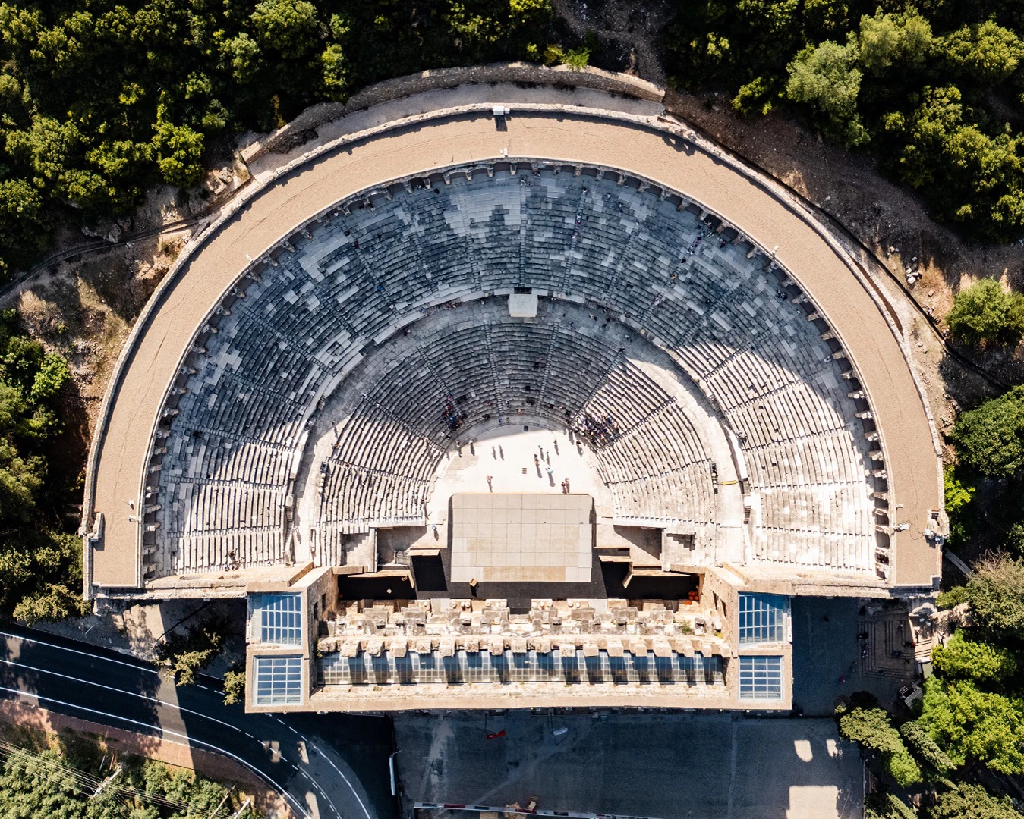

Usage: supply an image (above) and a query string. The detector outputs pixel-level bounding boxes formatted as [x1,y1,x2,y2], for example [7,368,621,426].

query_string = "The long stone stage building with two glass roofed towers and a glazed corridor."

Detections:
[246,560,792,712]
